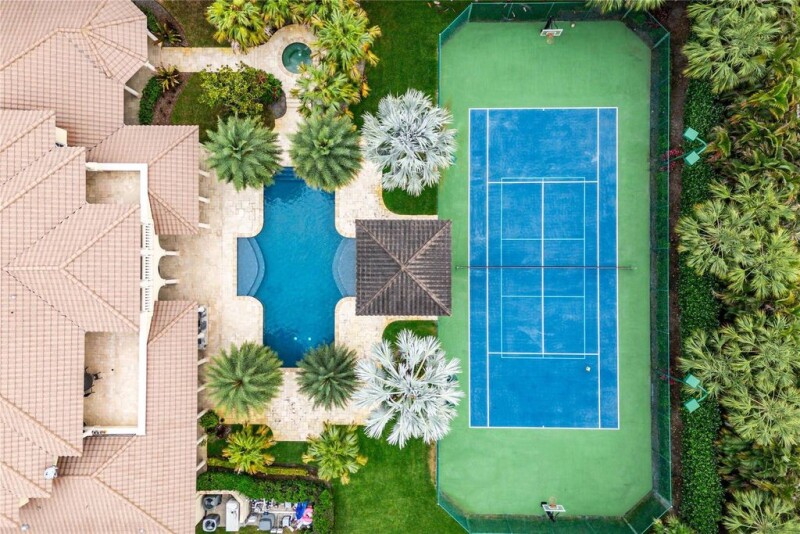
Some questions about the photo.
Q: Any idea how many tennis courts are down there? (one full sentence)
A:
I count just 1 tennis court.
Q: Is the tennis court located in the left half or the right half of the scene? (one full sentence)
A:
The tennis court is on the right side of the image.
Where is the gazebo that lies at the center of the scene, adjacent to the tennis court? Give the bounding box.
[354,217,454,317]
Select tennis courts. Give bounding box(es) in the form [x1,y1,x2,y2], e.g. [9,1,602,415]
[441,23,652,515]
